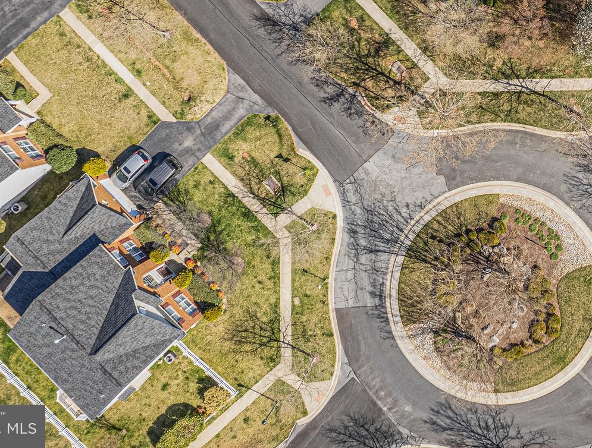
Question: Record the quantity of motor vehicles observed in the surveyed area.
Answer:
two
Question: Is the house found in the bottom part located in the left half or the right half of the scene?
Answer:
left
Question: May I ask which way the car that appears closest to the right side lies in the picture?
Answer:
at an angle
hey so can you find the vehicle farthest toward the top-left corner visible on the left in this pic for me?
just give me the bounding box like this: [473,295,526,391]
[109,146,155,190]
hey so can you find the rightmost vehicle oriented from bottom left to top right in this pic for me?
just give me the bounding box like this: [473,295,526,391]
[138,154,183,200]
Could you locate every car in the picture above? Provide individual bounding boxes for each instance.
[109,146,155,190]
[138,154,183,200]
